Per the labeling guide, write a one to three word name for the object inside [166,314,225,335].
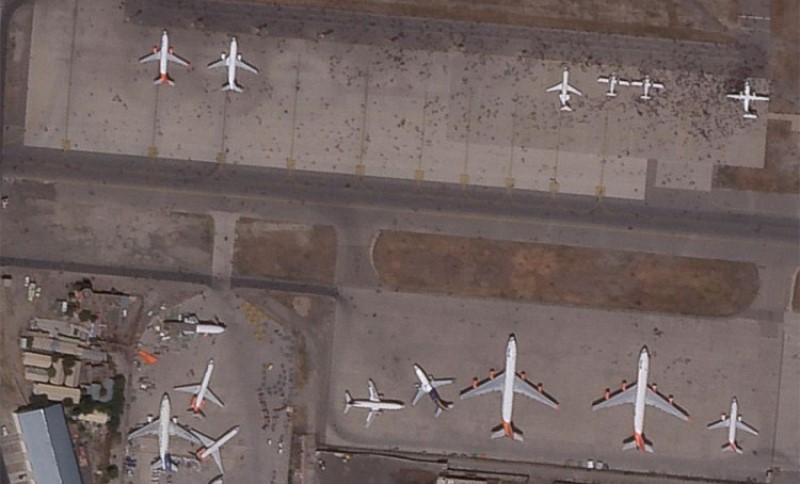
airplane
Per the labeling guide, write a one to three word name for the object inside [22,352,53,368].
house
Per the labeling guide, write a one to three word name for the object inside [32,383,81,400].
house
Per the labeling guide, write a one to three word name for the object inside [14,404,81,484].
hangar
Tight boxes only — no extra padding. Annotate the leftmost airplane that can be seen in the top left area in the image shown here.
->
[139,31,190,86]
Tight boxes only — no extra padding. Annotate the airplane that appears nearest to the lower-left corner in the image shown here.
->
[127,393,201,471]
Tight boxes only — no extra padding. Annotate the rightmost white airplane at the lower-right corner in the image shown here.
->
[708,397,759,453]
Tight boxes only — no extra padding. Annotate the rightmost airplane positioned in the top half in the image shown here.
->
[727,82,768,116]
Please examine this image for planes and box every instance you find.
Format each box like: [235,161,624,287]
[727,82,768,116]
[127,393,201,471]
[209,37,257,91]
[631,77,664,100]
[189,426,238,474]
[212,476,222,484]
[461,334,561,440]
[591,346,691,451]
[175,358,225,419]
[414,364,454,417]
[347,380,405,428]
[139,31,190,86]
[546,67,580,108]
[166,314,225,335]
[598,73,630,97]
[708,397,759,453]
